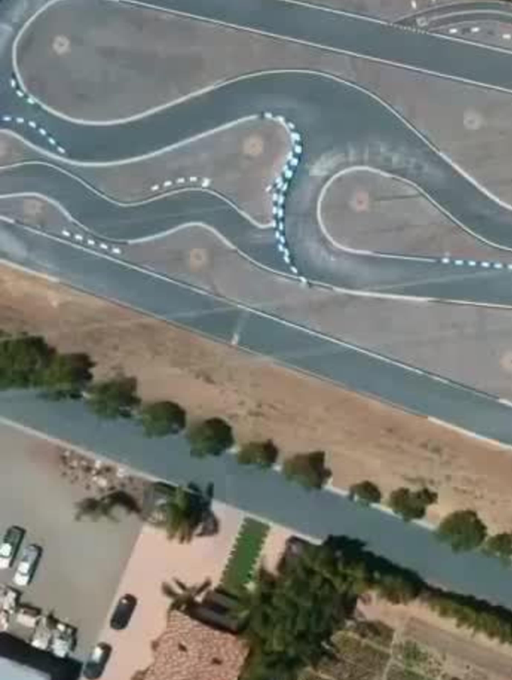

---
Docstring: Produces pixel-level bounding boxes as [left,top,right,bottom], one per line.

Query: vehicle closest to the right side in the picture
[111,593,136,630]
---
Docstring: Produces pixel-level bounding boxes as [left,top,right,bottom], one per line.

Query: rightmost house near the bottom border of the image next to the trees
[144,609,251,680]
